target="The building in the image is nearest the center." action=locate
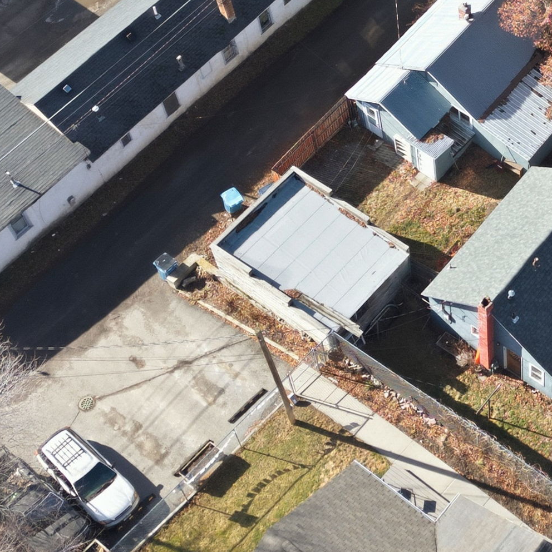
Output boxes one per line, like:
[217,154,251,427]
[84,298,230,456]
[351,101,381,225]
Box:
[207,161,414,359]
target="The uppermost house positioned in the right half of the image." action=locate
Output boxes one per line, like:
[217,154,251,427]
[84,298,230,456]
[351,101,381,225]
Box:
[344,0,552,179]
